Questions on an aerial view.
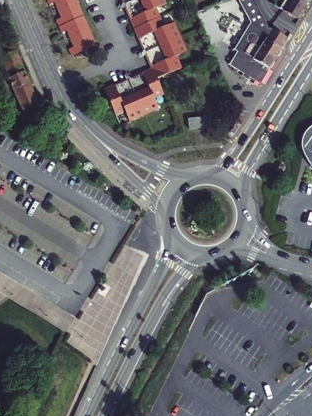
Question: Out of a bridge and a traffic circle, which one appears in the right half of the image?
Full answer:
Visible in the right half of the image is a traffic circle.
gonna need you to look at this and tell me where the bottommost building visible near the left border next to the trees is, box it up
[10,72,34,109]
